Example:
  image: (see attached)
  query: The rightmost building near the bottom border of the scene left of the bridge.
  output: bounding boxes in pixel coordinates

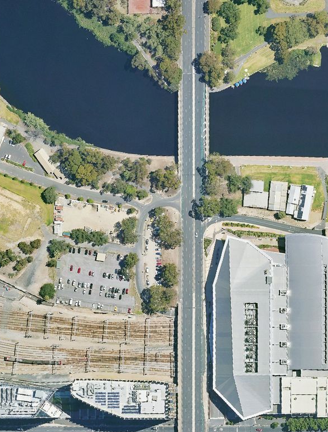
[69,377,177,421]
